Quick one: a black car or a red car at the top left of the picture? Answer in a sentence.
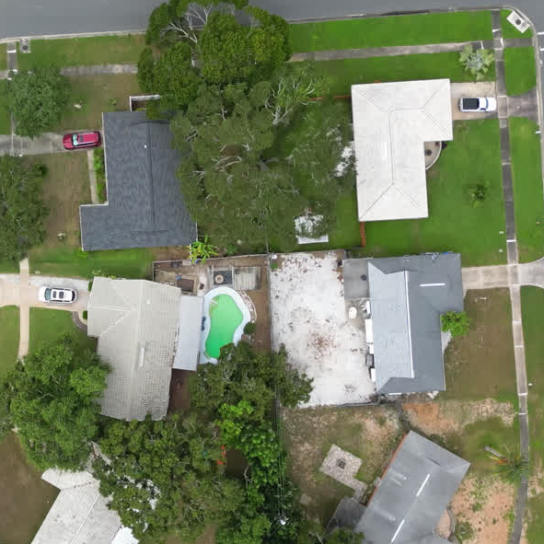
Visible at the top left of the picture is a red car.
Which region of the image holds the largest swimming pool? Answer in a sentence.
The largest swimming pool sits in the center section of the image.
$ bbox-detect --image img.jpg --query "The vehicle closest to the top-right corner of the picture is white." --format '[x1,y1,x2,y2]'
[457,94,498,113]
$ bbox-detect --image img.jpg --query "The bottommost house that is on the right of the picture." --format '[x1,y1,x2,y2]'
[321,430,470,544]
